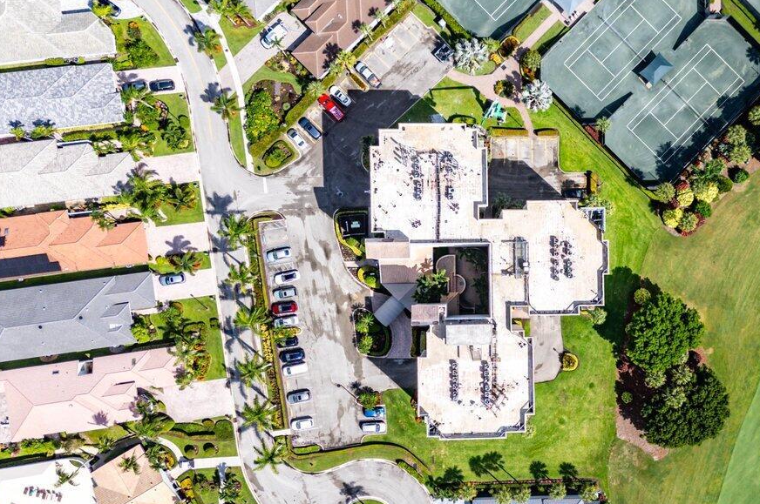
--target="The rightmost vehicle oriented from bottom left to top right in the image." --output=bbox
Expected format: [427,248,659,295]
[433,42,453,63]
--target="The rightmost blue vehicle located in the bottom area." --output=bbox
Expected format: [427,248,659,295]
[363,405,387,418]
